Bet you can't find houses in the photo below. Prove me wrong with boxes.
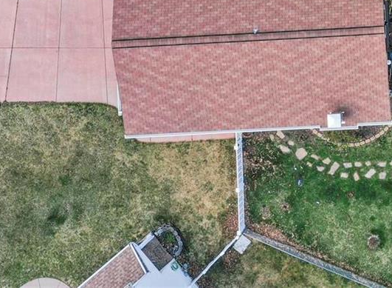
[111,0,392,141]
[75,232,201,288]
